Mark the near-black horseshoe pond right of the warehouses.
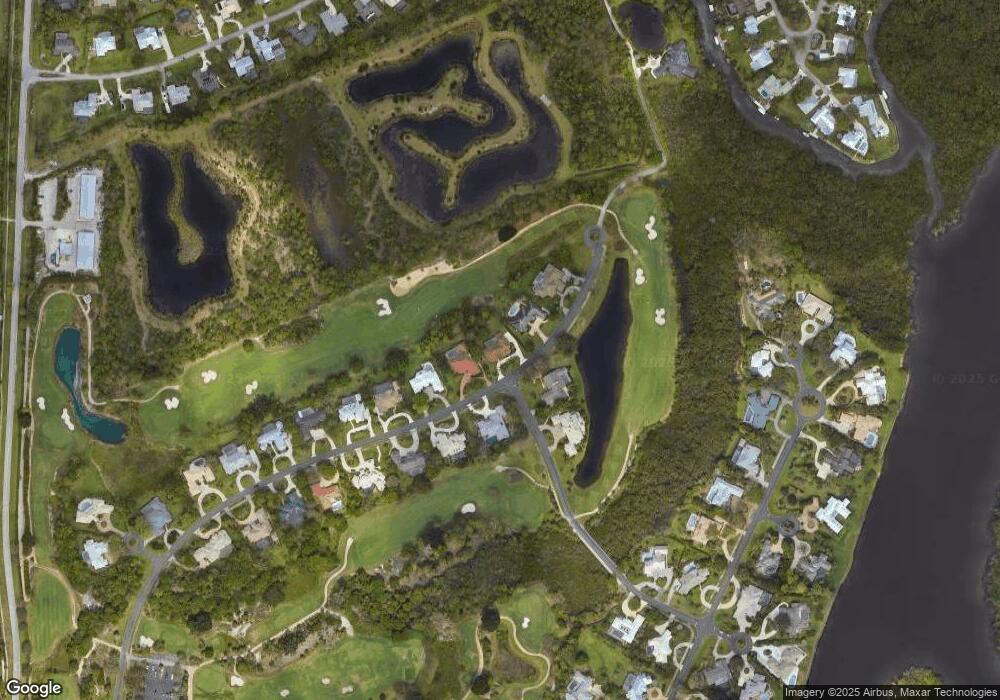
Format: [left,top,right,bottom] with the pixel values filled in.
[133,144,241,315]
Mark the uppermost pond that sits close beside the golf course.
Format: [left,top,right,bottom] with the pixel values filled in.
[350,37,562,220]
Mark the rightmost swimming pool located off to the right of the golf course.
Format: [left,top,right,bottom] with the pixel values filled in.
[863,432,878,448]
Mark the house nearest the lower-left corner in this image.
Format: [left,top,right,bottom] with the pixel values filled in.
[81,543,107,564]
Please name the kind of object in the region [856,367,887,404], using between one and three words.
house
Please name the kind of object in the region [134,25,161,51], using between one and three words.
house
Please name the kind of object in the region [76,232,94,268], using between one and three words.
building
